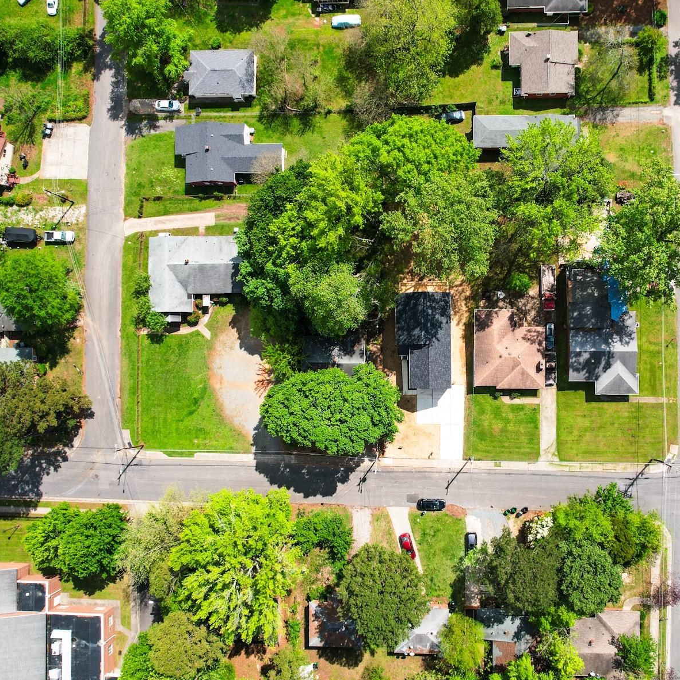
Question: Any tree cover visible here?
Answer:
Yes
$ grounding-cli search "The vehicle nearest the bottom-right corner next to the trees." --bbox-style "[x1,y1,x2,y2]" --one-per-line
[465,528,479,558]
